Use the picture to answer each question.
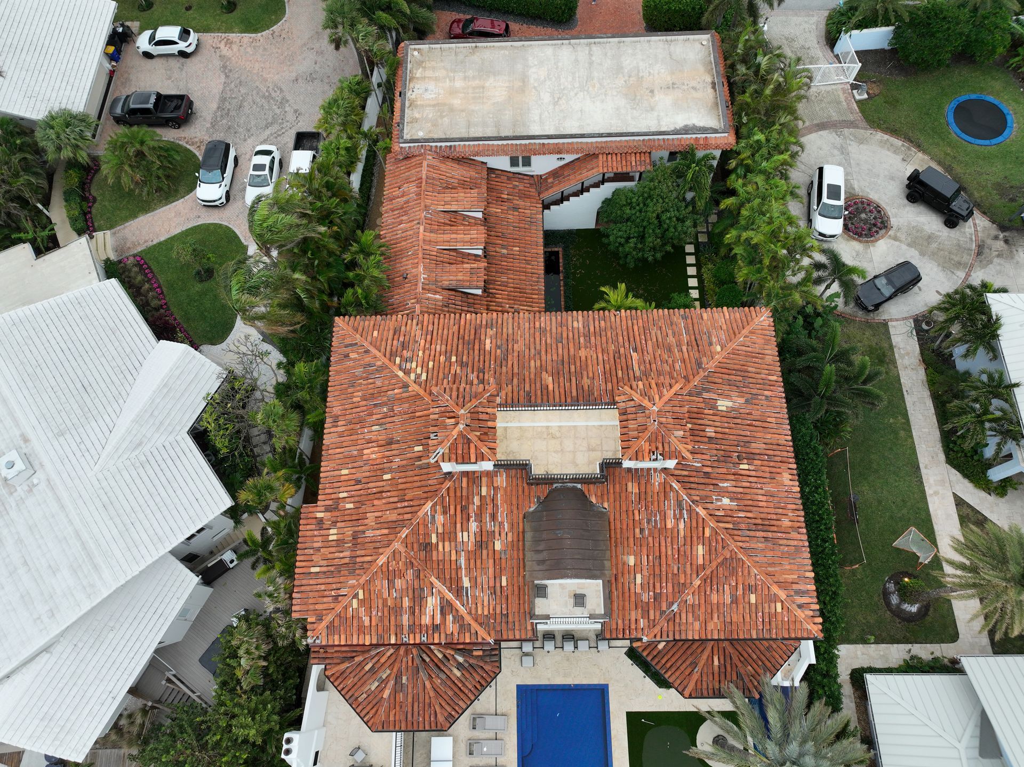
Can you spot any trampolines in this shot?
Yes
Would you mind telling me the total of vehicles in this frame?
9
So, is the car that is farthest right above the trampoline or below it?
below it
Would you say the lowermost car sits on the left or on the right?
right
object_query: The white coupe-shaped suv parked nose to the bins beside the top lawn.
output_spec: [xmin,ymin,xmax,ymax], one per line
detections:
[135,28,203,64]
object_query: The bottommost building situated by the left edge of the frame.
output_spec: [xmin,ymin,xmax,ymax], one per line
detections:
[0,235,244,764]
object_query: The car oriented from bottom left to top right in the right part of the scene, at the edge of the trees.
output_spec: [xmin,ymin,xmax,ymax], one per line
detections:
[851,254,932,318]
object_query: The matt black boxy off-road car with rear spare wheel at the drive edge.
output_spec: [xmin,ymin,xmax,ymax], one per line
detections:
[901,165,977,230]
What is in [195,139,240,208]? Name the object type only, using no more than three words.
car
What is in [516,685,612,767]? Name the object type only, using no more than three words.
swimming pool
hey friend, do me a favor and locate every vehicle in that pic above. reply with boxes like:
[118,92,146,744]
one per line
[135,28,203,64]
[244,146,286,212]
[901,165,977,230]
[110,91,194,129]
[448,14,513,39]
[808,159,851,243]
[281,132,324,198]
[195,139,240,208]
[851,254,932,318]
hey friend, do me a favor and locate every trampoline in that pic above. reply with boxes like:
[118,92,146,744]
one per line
[944,91,1017,147]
